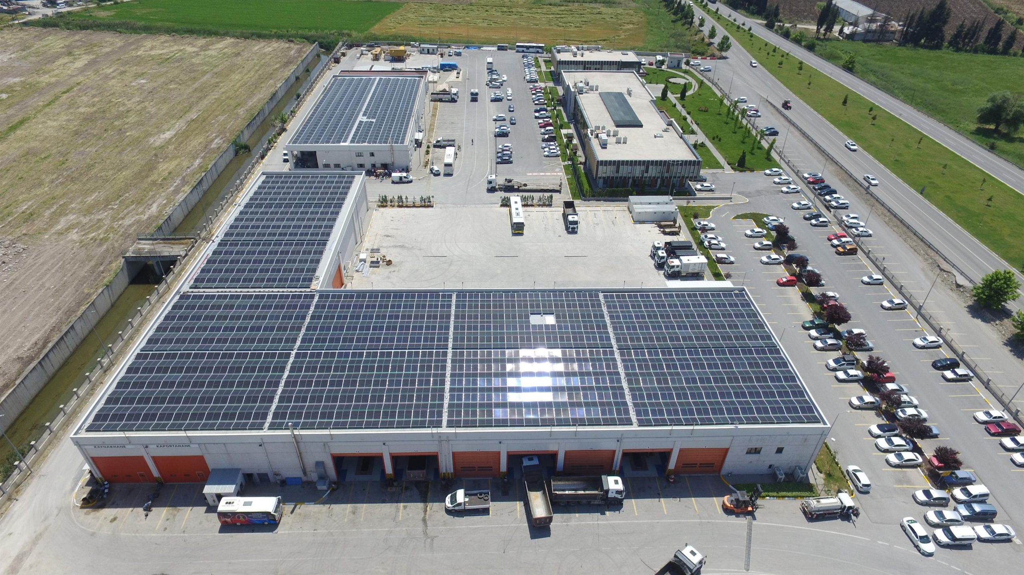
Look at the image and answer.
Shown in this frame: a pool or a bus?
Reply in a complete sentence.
I can see a bus in this picture.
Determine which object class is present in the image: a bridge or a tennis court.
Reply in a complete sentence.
There is a bridge in the scene.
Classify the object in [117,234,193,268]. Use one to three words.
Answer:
bridge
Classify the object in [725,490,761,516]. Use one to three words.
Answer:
work vehicle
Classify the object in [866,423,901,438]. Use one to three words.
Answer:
car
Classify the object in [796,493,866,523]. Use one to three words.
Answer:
truck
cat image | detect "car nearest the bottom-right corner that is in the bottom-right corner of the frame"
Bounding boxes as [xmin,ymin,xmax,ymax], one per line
[973,524,1017,543]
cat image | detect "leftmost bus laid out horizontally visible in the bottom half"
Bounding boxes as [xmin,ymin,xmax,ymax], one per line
[208,498,286,531]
